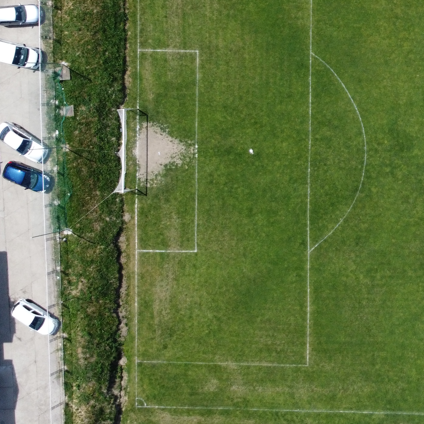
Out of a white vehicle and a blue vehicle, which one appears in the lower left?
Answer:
white vehicle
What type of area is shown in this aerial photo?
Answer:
sports ground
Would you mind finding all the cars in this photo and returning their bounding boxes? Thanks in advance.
[4,161,56,191]
[12,298,60,333]
[0,2,44,26]
[0,39,44,67]
[0,122,53,162]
